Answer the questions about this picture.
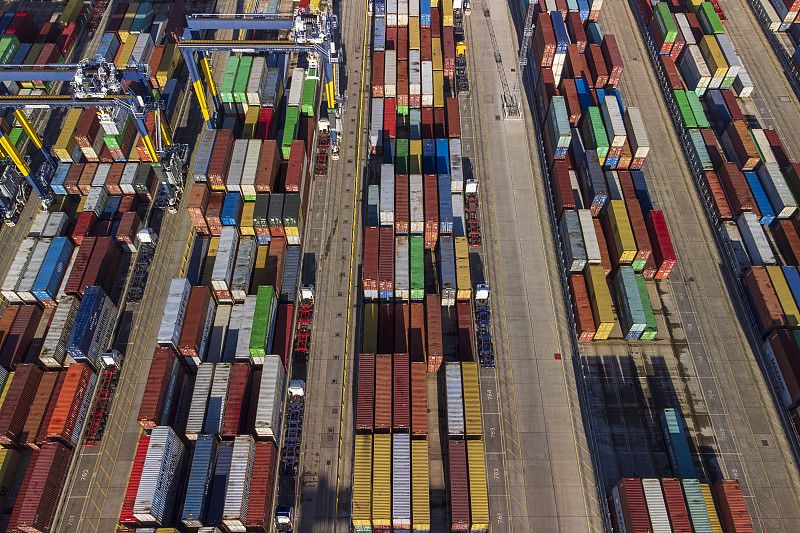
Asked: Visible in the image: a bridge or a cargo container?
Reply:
cargo container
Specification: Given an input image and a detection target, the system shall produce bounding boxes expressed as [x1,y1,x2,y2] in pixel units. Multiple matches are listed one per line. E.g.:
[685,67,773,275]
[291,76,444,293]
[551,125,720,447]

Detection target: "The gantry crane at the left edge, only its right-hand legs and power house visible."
[0,150,52,220]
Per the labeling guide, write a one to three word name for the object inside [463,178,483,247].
vehicle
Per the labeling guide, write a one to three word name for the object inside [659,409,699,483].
shipping container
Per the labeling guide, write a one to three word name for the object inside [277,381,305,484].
truck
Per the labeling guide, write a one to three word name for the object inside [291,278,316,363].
truck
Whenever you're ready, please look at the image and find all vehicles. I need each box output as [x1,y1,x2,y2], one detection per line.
[452,0,464,34]
[271,505,294,533]
[454,41,469,91]
[712,0,730,20]
[277,381,305,484]
[80,351,124,449]
[313,115,331,175]
[473,283,496,369]
[123,227,159,304]
[463,178,483,247]
[291,278,316,363]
